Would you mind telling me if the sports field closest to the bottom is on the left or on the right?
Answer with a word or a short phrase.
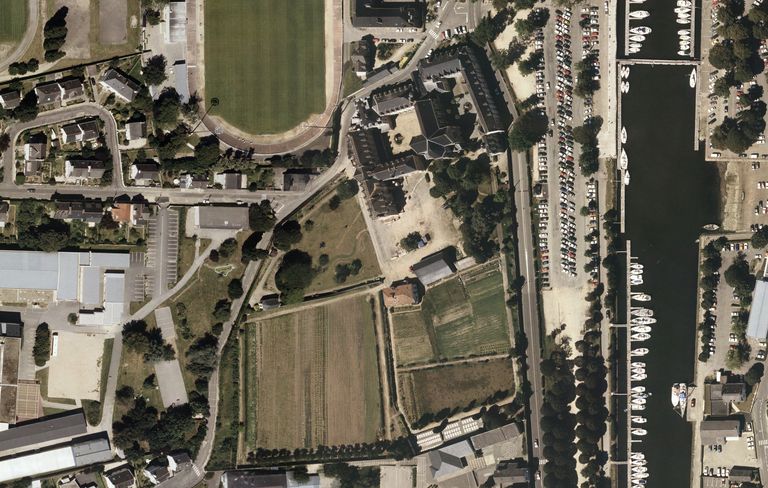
left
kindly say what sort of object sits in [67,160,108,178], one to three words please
house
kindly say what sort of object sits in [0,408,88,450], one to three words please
shed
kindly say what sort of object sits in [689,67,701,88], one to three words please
boat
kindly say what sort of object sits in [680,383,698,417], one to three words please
boat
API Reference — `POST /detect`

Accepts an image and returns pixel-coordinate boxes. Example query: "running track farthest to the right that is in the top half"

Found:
[187,0,344,156]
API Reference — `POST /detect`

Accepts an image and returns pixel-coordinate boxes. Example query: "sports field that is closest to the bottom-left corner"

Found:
[48,333,105,401]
